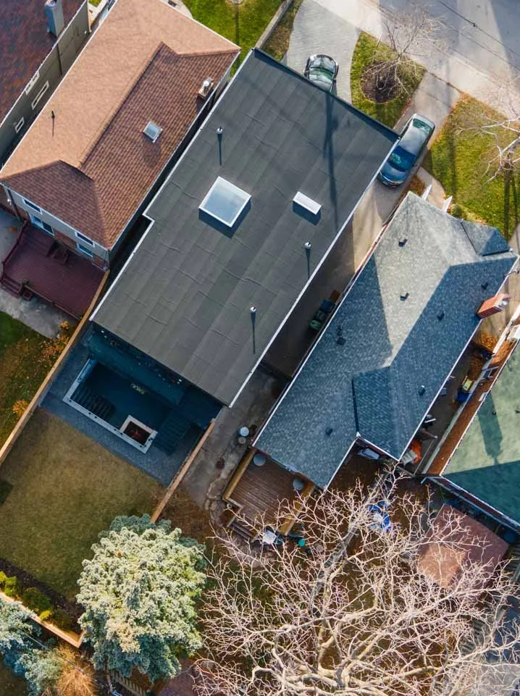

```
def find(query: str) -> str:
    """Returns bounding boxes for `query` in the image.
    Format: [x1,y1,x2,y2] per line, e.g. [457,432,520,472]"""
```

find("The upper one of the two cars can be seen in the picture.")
[304,50,343,98]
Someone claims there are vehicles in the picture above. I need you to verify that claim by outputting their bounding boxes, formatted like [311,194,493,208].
[374,110,440,194]
[304,50,343,98]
